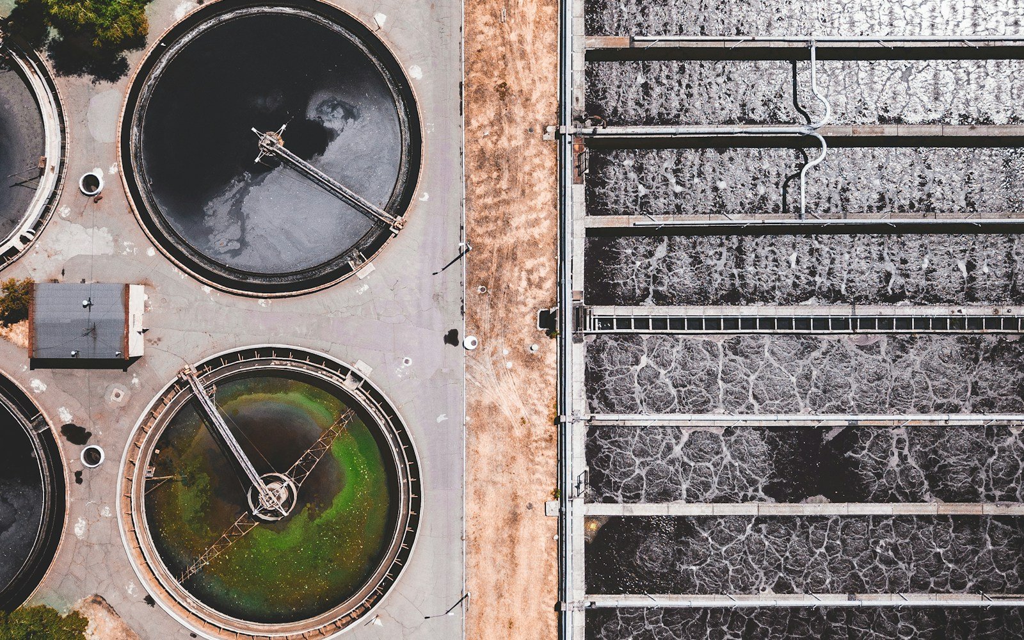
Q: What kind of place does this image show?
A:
industrial area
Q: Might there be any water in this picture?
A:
Yes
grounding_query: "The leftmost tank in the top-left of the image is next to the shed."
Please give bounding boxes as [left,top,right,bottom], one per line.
[0,15,71,272]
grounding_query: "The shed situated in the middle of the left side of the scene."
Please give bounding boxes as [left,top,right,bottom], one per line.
[24,282,150,360]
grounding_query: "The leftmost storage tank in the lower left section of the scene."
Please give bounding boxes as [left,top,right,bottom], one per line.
[0,366,71,623]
